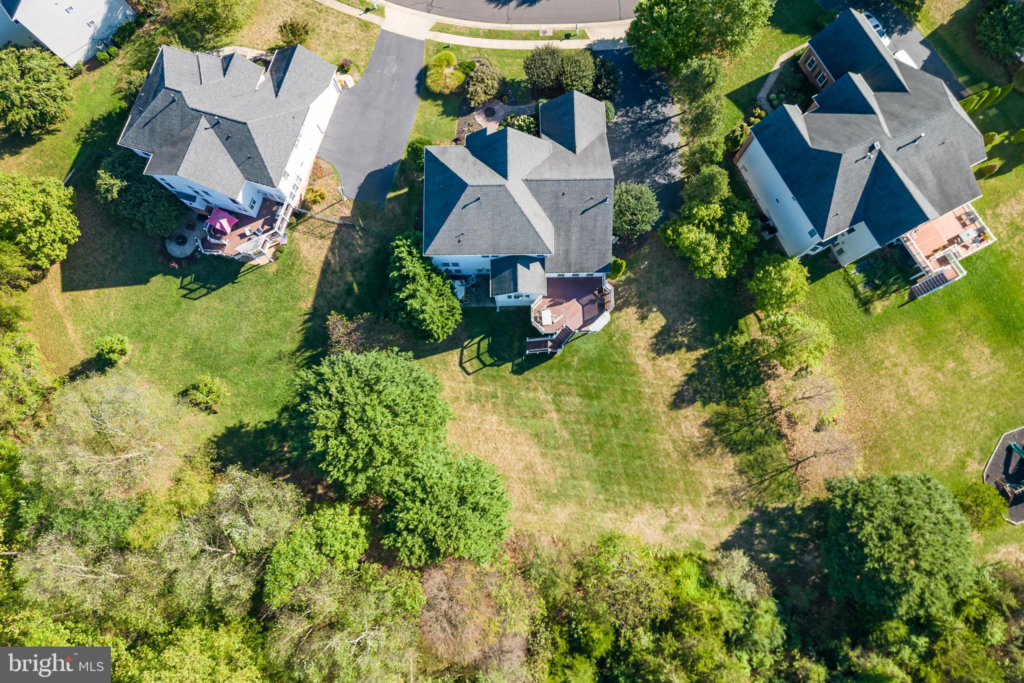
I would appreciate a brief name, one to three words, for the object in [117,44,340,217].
house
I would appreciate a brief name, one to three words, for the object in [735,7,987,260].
house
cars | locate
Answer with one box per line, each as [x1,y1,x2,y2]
[893,44,923,71]
[864,10,895,45]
